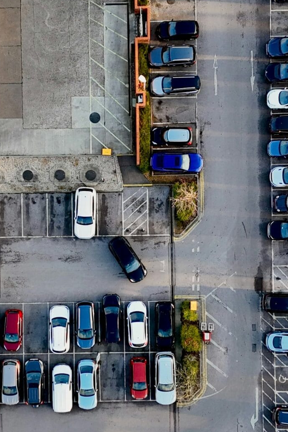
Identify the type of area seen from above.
parking lot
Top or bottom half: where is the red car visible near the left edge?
bottom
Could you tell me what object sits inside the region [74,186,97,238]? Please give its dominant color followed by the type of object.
white car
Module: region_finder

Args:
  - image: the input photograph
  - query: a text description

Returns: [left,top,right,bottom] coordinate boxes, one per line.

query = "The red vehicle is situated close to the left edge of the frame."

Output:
[2,308,24,351]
